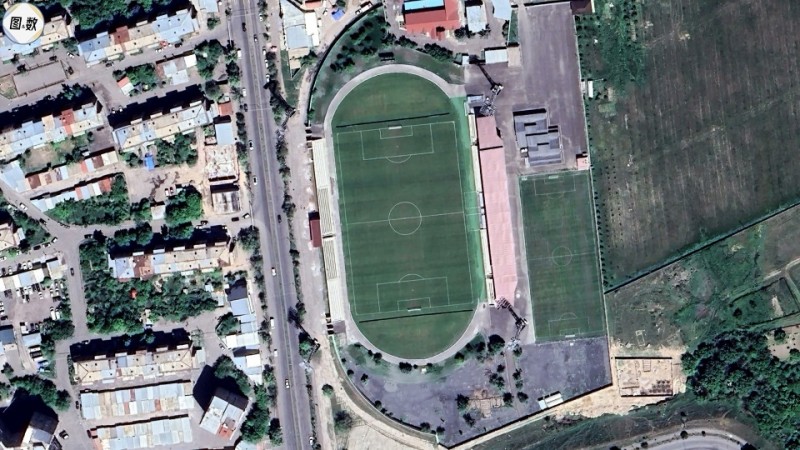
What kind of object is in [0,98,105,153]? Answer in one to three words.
building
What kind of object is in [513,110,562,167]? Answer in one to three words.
building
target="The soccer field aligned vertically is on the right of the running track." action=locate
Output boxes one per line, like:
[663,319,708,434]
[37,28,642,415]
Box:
[520,170,606,344]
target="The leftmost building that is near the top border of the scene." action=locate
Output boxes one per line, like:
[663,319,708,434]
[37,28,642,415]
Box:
[0,9,71,60]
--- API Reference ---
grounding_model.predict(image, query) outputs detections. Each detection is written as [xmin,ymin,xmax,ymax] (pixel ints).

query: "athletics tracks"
[326,67,486,370]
